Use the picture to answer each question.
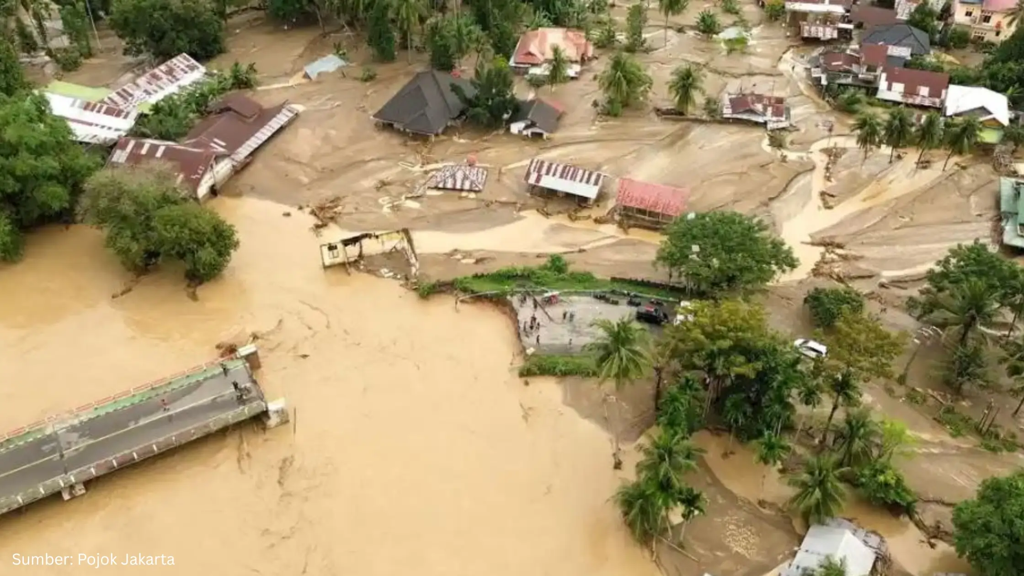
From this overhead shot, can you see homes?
Yes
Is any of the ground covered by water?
Yes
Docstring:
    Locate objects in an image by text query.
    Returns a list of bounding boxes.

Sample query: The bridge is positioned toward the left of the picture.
[0,345,285,511]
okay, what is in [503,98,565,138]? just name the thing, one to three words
house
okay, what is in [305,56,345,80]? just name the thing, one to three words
shed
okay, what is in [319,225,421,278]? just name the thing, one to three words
house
